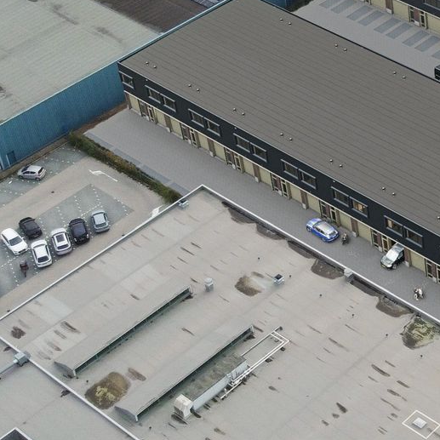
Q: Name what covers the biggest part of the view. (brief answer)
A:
buildings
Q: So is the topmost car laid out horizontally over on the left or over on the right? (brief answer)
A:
left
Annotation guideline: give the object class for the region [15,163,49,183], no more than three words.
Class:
car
